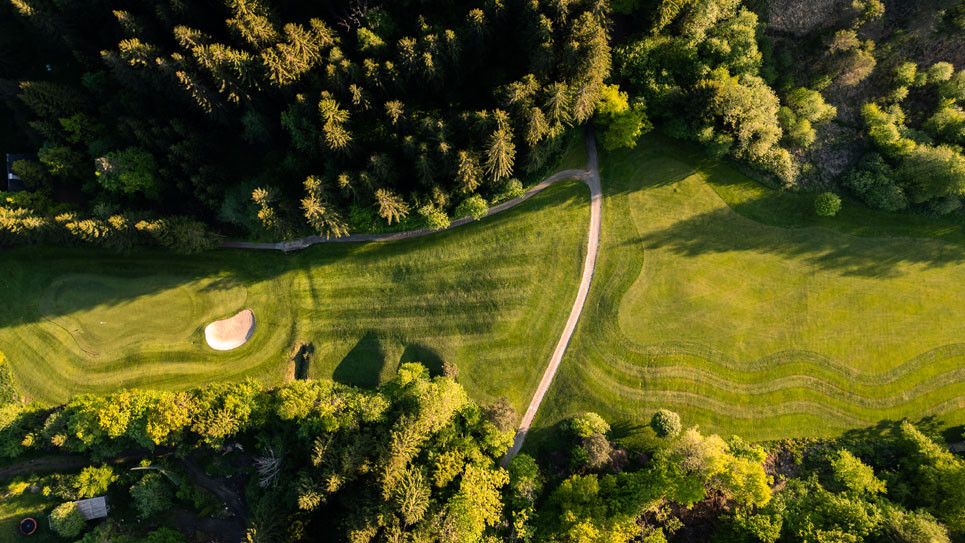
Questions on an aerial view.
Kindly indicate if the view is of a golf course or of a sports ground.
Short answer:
golf course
